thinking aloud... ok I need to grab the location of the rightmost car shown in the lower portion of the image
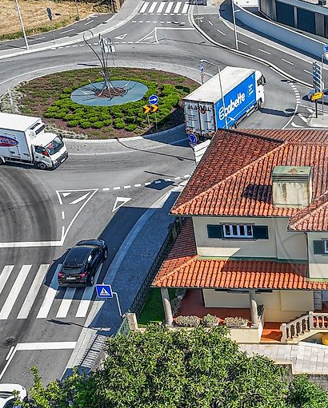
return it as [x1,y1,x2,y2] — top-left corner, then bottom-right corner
[58,239,112,288]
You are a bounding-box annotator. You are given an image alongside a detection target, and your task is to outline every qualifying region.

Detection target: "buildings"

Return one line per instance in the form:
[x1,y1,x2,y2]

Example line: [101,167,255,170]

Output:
[262,0,328,43]
[151,128,328,343]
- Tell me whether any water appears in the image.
No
